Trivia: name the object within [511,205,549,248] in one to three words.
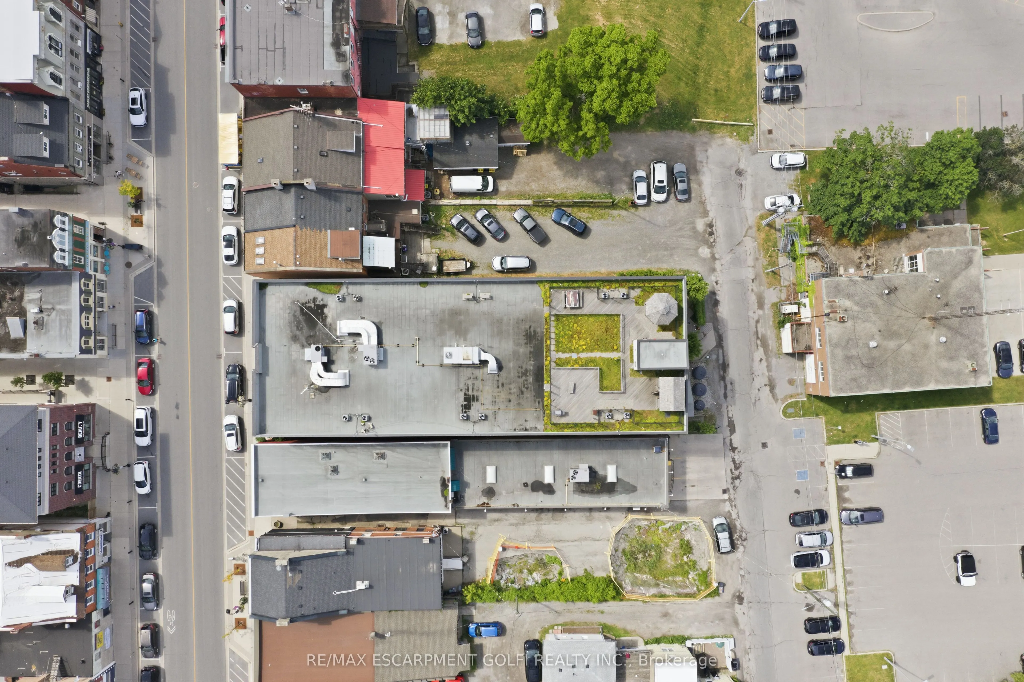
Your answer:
truck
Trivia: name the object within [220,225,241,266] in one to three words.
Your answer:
car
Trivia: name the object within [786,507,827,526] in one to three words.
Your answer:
car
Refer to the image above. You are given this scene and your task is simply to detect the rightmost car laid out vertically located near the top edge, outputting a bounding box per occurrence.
[527,1,546,42]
